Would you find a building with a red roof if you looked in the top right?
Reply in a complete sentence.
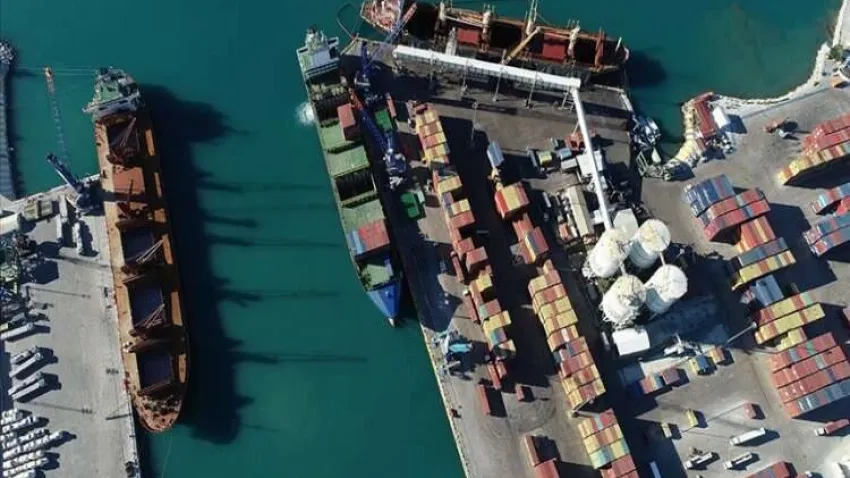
Yes, a building with a red roof shows up in the top right.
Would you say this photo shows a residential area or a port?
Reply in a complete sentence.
The area seen from above is a port.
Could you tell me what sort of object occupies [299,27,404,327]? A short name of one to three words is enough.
ship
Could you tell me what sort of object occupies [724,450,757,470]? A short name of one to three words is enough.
vehicle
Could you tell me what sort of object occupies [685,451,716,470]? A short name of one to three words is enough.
vehicle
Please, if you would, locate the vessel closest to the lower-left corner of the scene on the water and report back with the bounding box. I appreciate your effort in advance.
[85,68,193,434]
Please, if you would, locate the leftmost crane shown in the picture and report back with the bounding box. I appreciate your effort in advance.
[45,69,102,222]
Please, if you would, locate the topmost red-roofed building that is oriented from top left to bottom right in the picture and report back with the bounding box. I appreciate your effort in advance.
[681,102,717,141]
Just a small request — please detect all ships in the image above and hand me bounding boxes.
[299,27,404,327]
[353,0,633,79]
[85,68,193,434]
